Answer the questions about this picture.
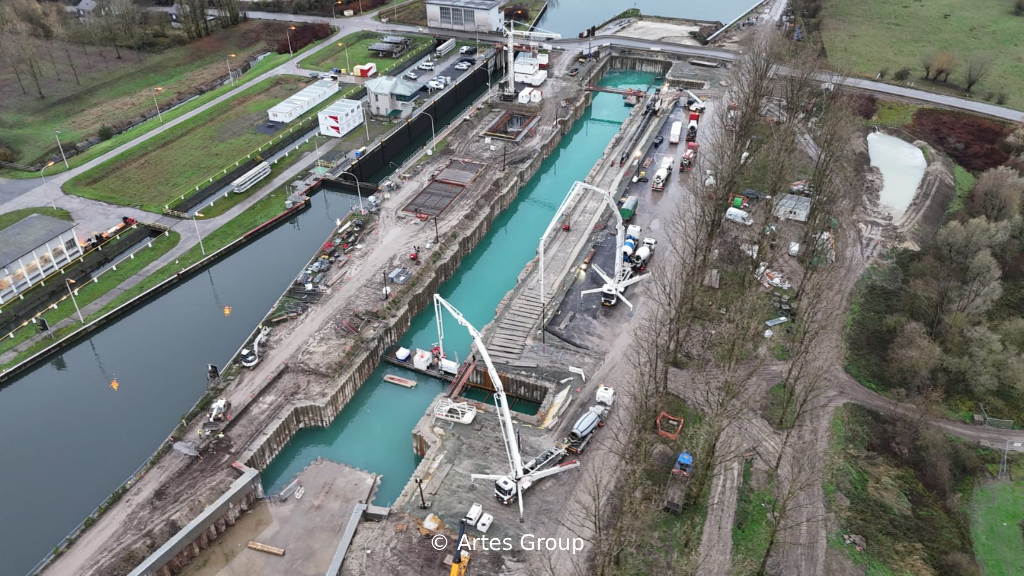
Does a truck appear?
Yes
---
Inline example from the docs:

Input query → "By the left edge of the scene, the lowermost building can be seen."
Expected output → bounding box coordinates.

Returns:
[0,215,88,311]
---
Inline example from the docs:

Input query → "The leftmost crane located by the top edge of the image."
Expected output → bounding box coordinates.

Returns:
[496,7,567,104]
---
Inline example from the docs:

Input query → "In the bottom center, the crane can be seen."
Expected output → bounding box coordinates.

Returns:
[449,516,471,576]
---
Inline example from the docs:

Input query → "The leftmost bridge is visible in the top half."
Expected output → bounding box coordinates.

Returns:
[140,207,189,235]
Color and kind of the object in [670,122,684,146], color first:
white vehicle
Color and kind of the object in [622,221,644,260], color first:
white truck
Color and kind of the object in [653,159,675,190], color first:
white truck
